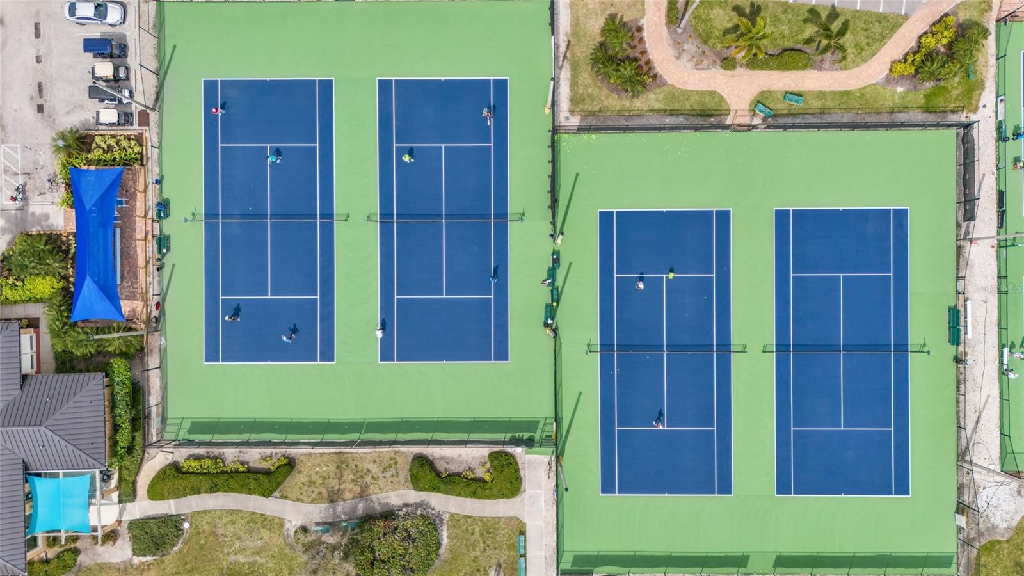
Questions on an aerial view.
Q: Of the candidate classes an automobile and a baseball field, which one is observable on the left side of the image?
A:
automobile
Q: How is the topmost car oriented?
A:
horizontally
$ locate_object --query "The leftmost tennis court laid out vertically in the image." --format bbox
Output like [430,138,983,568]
[203,78,334,363]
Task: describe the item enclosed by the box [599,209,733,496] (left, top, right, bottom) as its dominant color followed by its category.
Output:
blue tennis court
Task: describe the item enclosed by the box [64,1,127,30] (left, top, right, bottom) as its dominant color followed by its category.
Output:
white car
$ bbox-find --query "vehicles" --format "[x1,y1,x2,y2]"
[89,85,134,105]
[84,38,129,60]
[64,1,127,30]
[96,109,134,129]
[91,62,130,83]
